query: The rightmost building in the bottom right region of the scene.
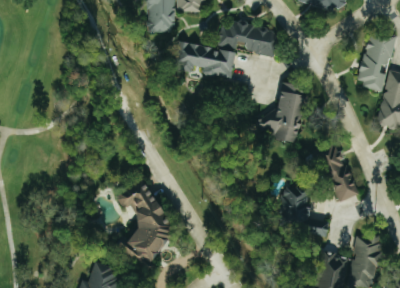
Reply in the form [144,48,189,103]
[352,238,383,288]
